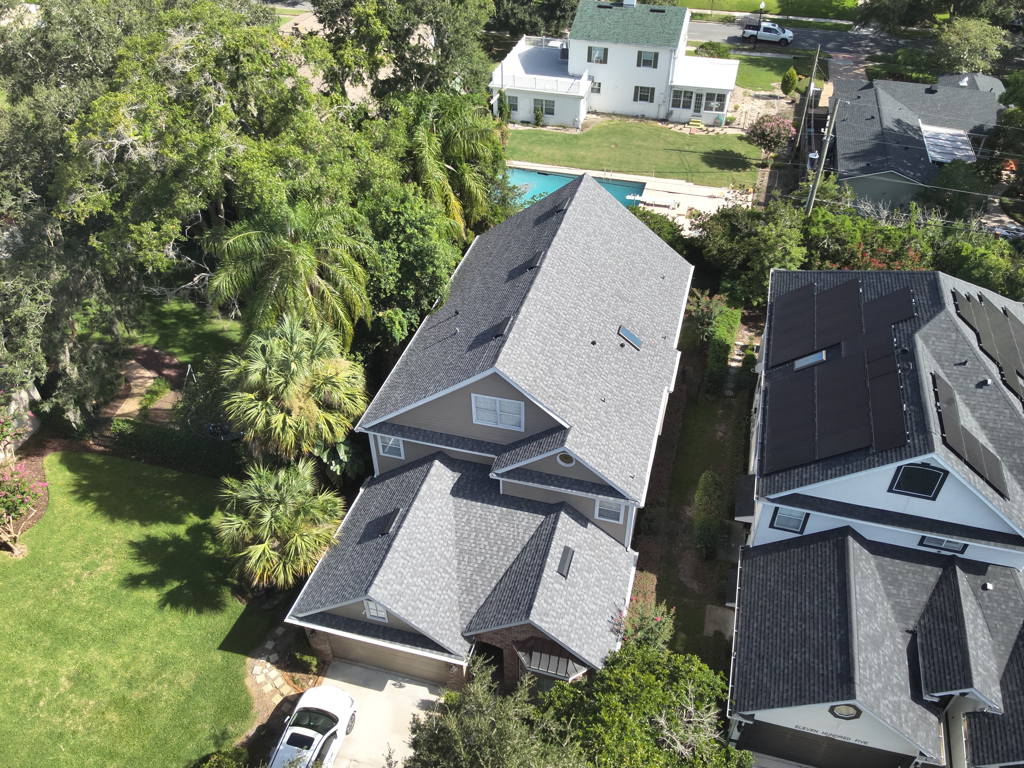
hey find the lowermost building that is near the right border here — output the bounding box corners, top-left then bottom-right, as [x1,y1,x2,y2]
[723,261,1024,768]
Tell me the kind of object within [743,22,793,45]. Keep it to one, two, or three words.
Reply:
truck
